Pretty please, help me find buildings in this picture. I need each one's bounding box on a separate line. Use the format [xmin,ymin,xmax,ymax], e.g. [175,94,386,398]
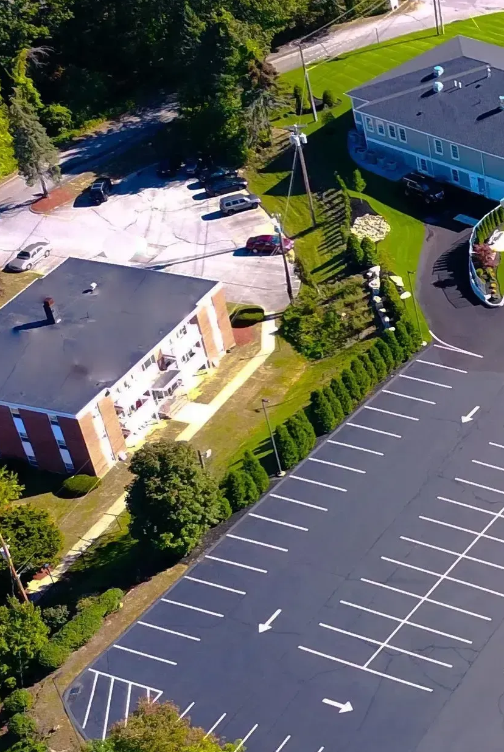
[346,34,504,199]
[0,258,235,477]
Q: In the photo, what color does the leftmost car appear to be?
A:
white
